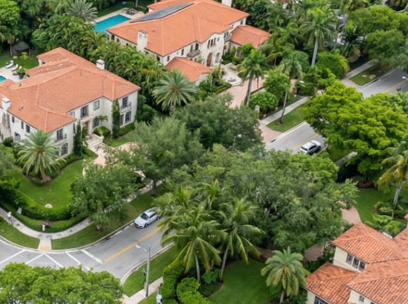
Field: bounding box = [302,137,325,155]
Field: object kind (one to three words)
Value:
car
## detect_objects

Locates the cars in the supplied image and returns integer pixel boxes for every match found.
[302,137,325,155]
[135,205,167,227]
